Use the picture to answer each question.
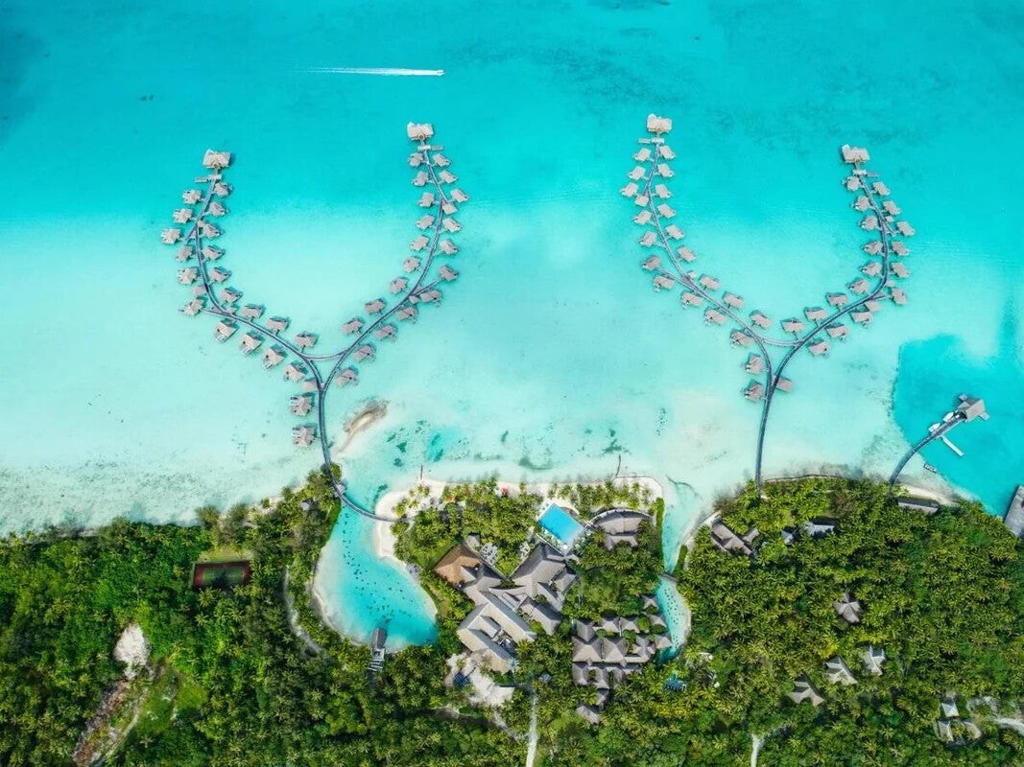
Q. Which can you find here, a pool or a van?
pool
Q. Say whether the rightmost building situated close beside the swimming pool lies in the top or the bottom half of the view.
bottom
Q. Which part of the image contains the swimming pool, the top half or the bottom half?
bottom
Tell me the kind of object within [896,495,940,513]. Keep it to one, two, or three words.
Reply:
shed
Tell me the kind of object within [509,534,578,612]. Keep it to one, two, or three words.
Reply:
building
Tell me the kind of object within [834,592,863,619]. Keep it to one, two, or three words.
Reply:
house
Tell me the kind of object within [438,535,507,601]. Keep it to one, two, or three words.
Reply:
building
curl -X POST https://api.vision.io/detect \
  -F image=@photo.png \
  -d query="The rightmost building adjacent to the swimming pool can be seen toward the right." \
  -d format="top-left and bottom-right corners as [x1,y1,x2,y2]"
[586,509,655,550]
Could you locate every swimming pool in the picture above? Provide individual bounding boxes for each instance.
[534,499,591,553]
